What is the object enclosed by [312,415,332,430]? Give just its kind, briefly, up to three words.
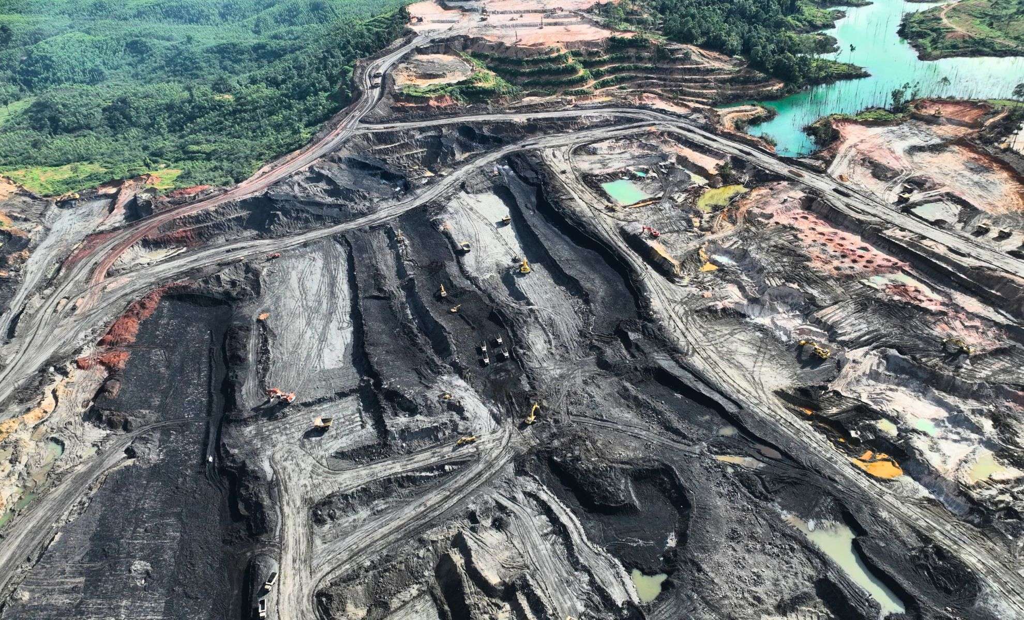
vehicle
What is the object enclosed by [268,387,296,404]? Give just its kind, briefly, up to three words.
work vehicle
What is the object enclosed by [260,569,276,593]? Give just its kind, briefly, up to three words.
vehicle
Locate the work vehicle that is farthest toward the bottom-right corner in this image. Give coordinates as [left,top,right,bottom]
[940,332,981,355]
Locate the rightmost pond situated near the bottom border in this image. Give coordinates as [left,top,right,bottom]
[784,518,907,620]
